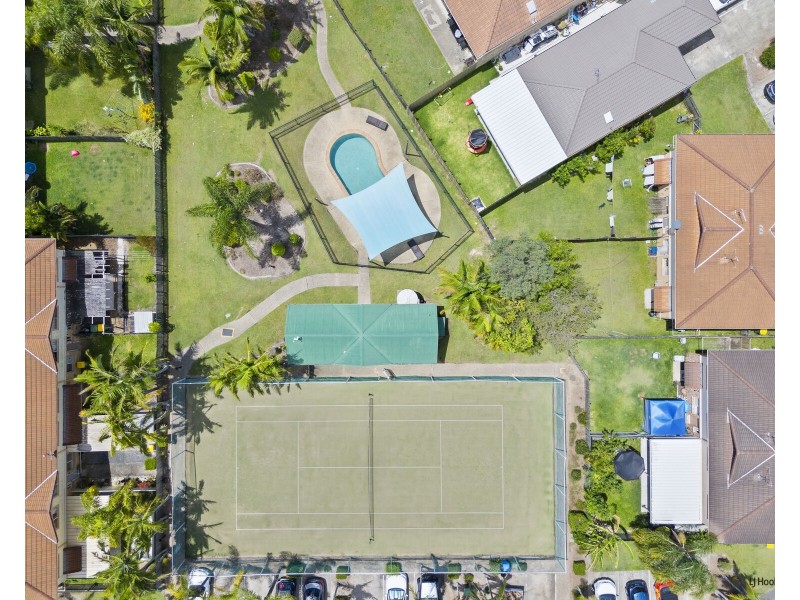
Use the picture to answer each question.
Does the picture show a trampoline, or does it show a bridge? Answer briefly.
trampoline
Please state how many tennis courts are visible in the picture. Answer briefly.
1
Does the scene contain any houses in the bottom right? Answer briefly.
Yes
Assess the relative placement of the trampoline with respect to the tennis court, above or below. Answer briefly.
above it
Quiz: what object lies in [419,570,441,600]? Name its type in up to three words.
car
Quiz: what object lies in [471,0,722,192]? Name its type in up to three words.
house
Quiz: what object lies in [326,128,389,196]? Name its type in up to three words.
swimming pool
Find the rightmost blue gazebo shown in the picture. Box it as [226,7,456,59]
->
[638,395,686,436]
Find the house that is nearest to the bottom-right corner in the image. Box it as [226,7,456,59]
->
[637,348,800,545]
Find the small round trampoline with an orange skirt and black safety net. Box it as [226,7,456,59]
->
[463,130,488,157]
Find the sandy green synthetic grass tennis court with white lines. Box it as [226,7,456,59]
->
[187,383,552,555]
